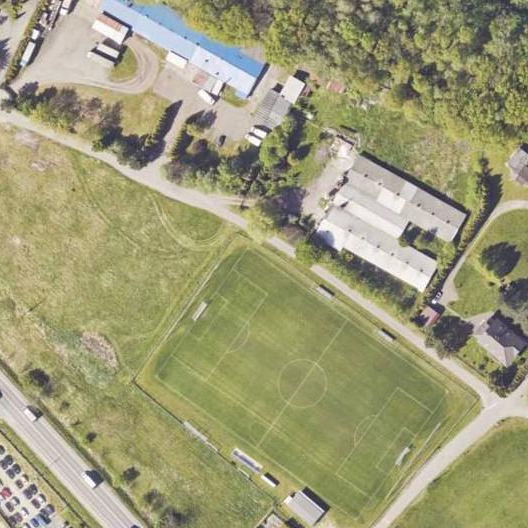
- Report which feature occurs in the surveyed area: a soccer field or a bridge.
soccer field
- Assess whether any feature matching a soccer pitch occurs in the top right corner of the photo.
No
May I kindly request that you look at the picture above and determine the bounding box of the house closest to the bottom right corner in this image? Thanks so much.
[477,318,528,366]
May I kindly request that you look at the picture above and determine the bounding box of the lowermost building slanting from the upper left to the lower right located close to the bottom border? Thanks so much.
[283,490,328,525]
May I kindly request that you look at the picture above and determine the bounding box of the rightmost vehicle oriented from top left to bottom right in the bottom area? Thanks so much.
[83,470,99,489]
